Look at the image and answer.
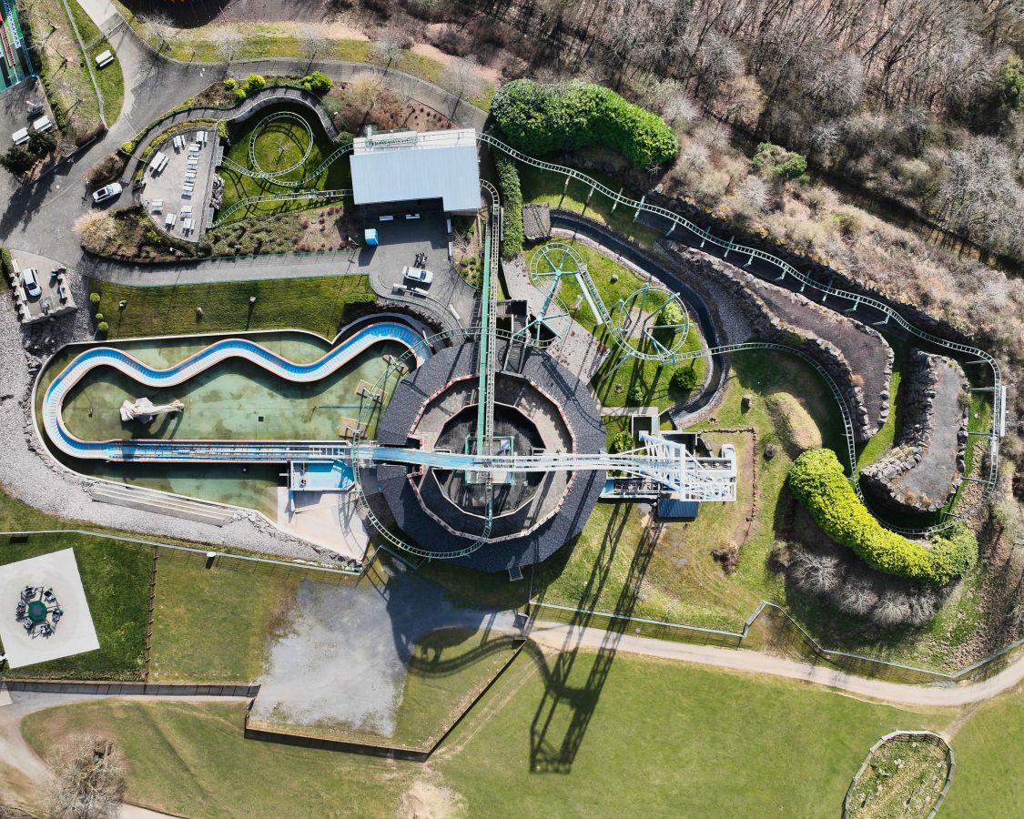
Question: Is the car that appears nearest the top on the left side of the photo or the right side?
left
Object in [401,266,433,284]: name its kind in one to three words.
vehicle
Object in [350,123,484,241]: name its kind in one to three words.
building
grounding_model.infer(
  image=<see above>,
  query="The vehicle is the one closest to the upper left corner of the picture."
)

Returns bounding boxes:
[88,181,122,202]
